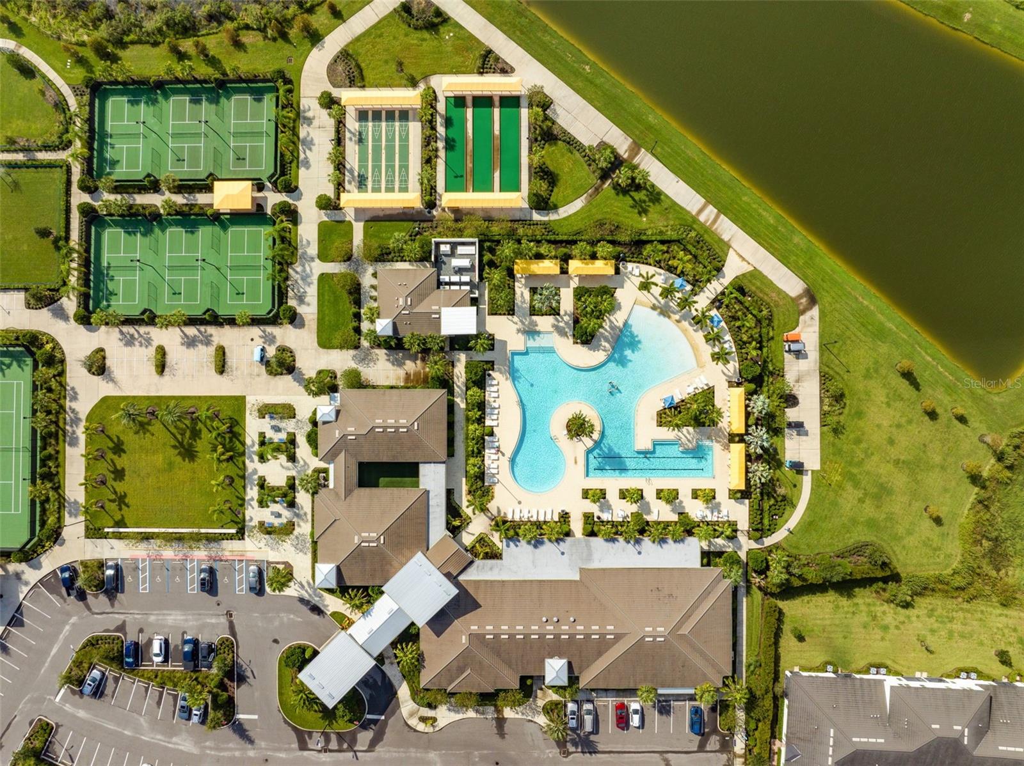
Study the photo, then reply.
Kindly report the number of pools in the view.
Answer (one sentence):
In total, 1 pool can be seen.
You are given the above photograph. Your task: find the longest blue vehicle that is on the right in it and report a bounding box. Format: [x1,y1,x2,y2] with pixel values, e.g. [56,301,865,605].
[690,706,703,734]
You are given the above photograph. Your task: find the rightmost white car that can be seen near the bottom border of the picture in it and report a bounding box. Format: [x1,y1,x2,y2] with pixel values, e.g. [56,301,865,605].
[630,700,642,728]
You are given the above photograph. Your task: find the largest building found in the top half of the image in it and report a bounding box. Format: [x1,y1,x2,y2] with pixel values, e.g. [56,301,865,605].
[377,268,471,335]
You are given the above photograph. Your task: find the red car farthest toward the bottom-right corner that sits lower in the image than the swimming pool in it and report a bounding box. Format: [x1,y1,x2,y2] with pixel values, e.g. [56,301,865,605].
[615,701,628,730]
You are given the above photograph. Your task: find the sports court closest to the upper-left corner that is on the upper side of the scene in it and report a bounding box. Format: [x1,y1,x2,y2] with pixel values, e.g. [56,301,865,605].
[103,97,141,170]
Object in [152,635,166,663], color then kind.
white car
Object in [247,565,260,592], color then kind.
gray vehicle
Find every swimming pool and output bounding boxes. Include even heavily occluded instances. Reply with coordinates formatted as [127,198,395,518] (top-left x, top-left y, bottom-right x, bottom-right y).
[508,296,715,495]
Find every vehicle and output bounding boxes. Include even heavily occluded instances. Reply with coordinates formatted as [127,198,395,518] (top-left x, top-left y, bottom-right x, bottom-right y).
[191,698,207,727]
[615,701,628,730]
[785,461,803,469]
[690,706,703,734]
[567,701,579,729]
[786,421,804,428]
[59,564,78,593]
[105,562,120,590]
[123,639,138,668]
[582,701,595,731]
[254,347,264,361]
[247,565,260,592]
[630,700,642,728]
[200,637,214,671]
[84,667,103,696]
[783,334,802,341]
[182,637,197,670]
[178,692,192,721]
[152,635,166,663]
[784,344,803,351]
[198,564,212,592]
